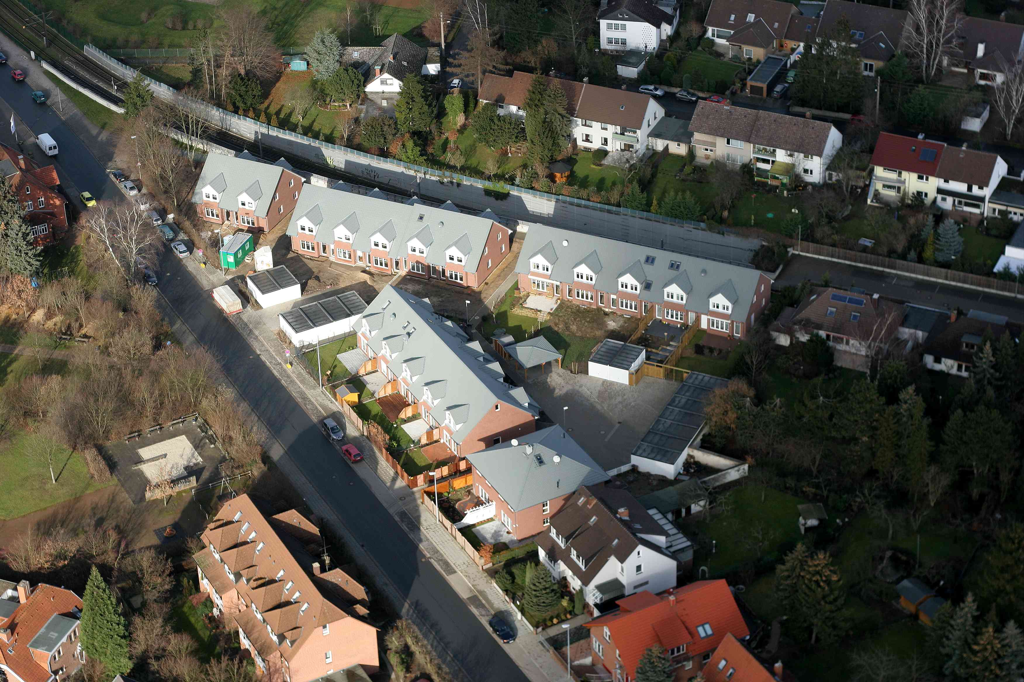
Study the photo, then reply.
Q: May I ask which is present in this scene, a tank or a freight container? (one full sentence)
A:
The image shows a freight container.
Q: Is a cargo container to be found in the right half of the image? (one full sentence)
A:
No, no cargo container is visible in the right half of the image.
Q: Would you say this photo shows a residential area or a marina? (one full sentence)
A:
What you see here is a residential area.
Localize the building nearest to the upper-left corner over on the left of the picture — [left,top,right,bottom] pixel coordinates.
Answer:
[0,157,67,245]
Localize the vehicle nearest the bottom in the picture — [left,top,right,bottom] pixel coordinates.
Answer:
[488,618,517,646]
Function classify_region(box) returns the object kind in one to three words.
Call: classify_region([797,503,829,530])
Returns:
shed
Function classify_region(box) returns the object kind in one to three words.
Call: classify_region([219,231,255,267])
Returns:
shipping container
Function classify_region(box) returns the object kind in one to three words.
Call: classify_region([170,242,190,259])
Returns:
car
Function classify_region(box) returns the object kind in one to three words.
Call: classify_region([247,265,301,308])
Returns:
building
